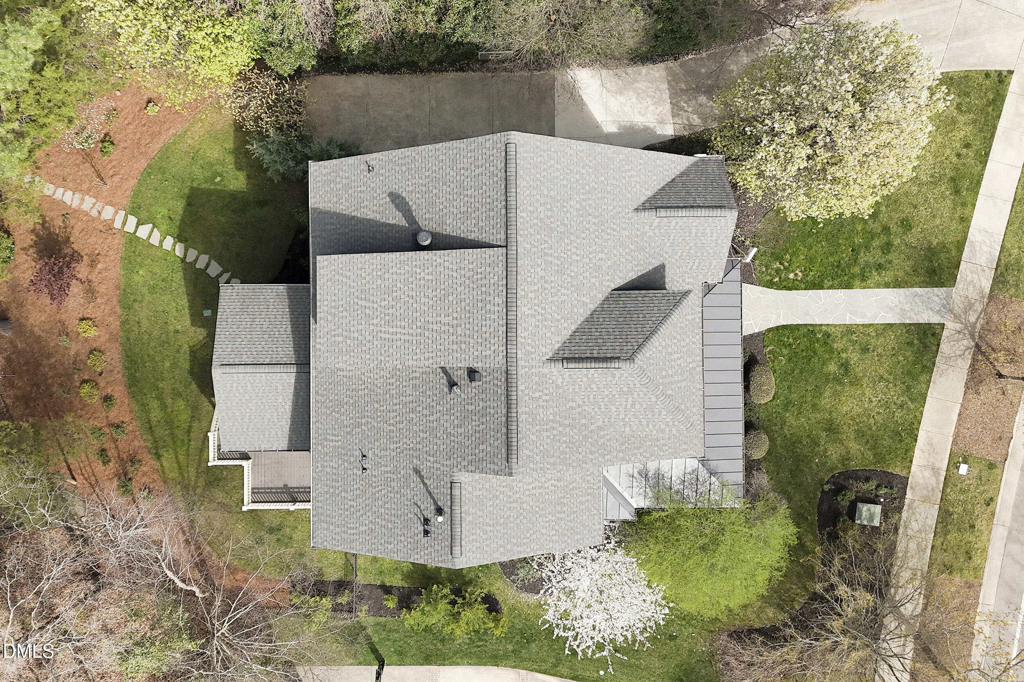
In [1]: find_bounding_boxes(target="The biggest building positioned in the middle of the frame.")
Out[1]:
[212,130,757,573]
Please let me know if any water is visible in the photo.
No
